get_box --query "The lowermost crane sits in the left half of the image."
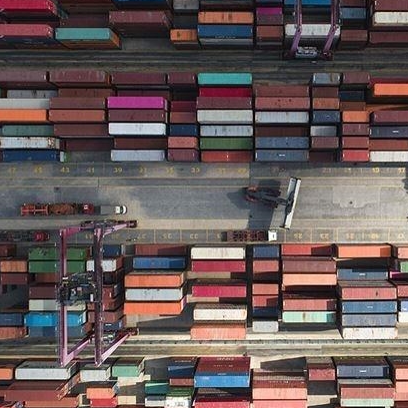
[53,219,144,375]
